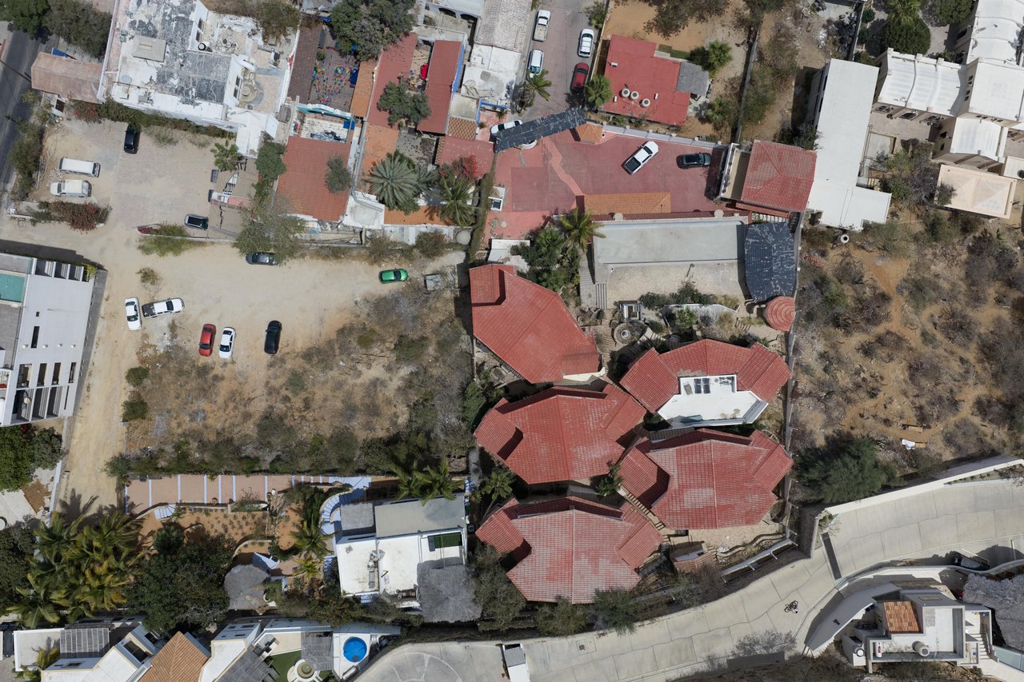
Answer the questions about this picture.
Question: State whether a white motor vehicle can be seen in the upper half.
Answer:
Yes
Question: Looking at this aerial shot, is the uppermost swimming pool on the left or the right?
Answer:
left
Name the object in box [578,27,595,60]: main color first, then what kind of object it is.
white car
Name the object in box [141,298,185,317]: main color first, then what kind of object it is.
white vehicle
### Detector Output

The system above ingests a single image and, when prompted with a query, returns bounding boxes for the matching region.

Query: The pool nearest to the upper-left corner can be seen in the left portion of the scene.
[0,271,26,303]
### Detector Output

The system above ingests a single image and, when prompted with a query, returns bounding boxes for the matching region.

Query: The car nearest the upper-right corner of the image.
[676,151,710,168]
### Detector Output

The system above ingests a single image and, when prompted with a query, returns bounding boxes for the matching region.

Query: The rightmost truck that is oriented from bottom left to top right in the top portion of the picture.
[621,140,658,176]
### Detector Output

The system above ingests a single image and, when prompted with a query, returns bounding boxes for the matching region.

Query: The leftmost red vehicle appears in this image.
[198,324,217,356]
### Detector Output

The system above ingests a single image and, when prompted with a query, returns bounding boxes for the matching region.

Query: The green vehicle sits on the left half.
[379,268,408,283]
